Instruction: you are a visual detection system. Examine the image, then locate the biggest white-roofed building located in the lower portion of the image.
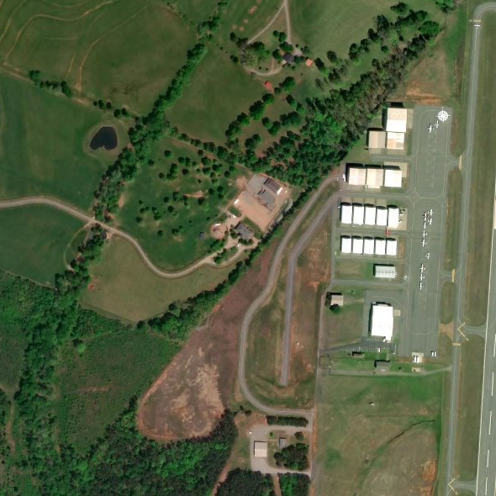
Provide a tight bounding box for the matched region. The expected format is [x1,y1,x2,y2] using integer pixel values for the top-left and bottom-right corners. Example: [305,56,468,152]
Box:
[371,305,394,343]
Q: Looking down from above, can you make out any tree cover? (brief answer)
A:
Yes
